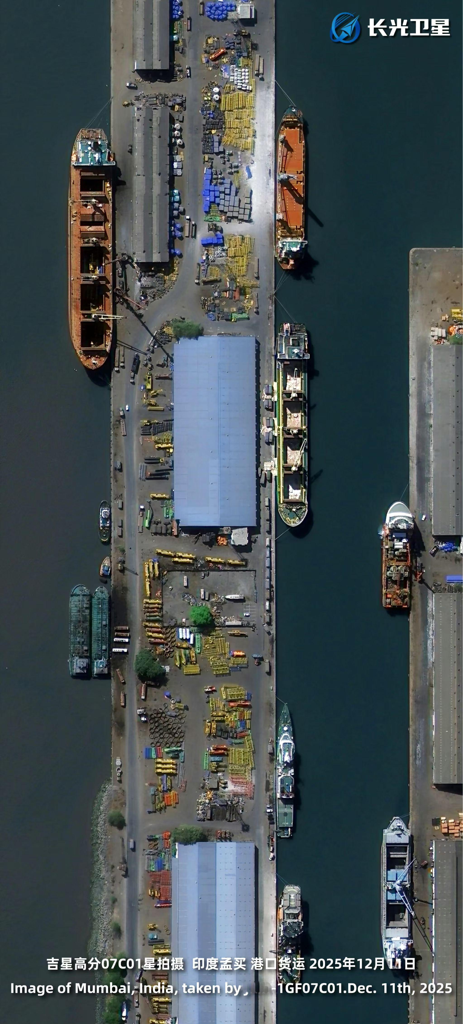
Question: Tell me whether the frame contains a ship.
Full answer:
Yes, there's a ship here.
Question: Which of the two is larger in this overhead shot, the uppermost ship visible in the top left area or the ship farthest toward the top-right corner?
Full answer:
The larger object is the uppermost ship visible in the top left area, with the ship farthest toward the top-right corner being the smaller of the pair.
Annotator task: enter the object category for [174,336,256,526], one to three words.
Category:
building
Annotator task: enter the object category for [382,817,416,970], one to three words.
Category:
ship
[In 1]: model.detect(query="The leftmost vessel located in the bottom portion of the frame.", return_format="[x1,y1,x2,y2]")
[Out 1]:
[69,584,90,677]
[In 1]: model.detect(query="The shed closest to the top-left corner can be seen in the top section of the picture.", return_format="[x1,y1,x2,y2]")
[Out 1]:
[135,0,169,70]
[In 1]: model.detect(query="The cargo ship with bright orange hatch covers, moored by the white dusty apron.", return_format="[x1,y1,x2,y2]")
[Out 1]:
[276,105,308,270]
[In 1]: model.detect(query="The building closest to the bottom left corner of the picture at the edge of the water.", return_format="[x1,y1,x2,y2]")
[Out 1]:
[172,842,254,1024]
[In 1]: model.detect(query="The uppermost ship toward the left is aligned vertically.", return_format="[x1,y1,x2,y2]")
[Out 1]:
[68,129,127,369]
